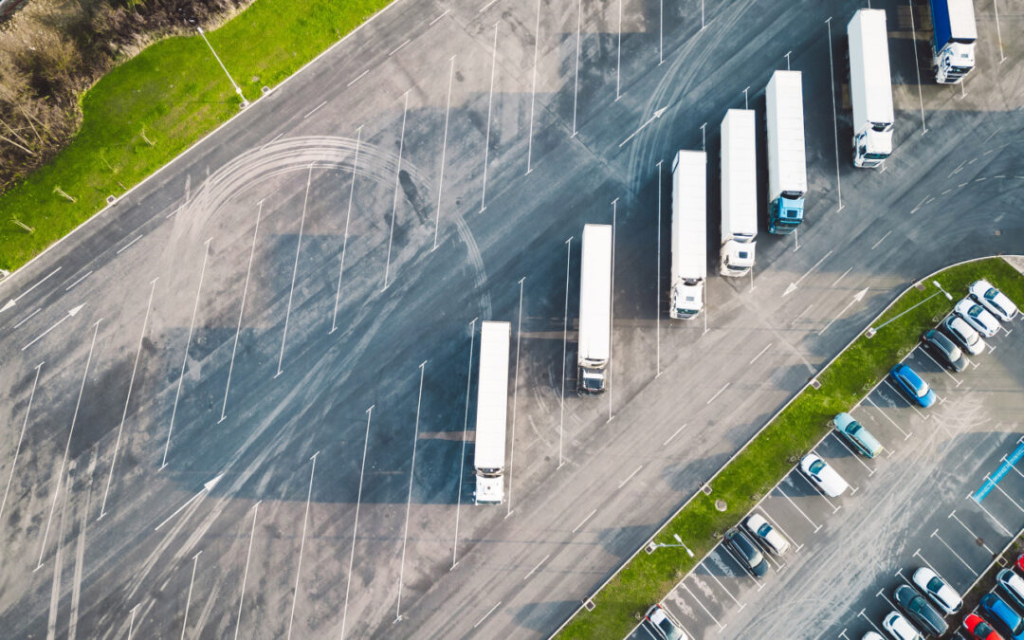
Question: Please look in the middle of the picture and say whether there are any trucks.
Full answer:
Yes, you'll find a truck in the middle of the picture.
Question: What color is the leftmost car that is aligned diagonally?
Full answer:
The leftmost car that is aligned diagonally is white.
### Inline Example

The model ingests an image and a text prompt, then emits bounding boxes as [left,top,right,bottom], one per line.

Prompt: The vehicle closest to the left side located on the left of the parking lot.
[471,318,509,505]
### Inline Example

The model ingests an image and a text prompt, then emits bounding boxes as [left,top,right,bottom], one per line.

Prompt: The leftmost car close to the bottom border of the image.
[644,599,692,640]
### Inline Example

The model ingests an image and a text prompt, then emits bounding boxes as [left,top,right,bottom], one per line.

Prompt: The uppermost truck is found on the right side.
[926,0,977,84]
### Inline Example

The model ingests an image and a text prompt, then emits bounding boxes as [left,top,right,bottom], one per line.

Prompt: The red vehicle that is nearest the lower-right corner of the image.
[963,613,1006,640]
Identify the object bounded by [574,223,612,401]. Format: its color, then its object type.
white truck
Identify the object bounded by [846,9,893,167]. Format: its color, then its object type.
white truck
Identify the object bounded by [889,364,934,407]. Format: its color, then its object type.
blue car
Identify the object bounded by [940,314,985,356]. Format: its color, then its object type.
white car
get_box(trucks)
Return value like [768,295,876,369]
[574,223,612,401]
[764,71,806,235]
[846,9,893,167]
[471,318,509,505]
[926,0,977,84]
[671,148,707,319]
[720,109,758,276]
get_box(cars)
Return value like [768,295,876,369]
[954,299,1000,339]
[832,412,883,460]
[947,631,969,640]
[912,567,963,616]
[644,599,692,640]
[893,584,949,639]
[721,526,771,579]
[963,613,1006,640]
[800,452,850,500]
[995,569,1024,611]
[980,596,1024,640]
[745,512,791,560]
[889,364,934,407]
[881,607,927,640]
[1015,556,1024,577]
[919,327,969,373]
[940,314,985,356]
[970,282,1016,321]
